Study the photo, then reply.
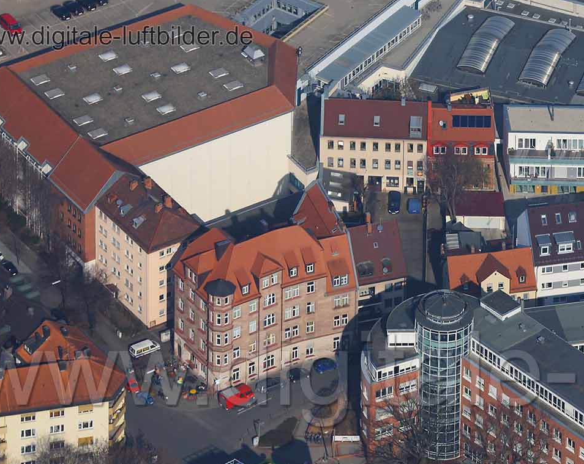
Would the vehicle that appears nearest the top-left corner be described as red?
Yes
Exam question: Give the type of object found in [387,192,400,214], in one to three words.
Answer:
vehicle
